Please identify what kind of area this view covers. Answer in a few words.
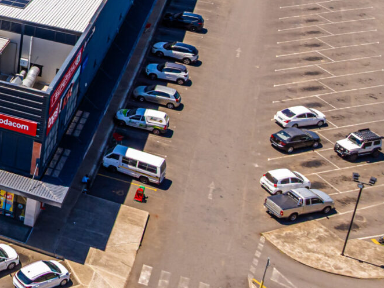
parking lot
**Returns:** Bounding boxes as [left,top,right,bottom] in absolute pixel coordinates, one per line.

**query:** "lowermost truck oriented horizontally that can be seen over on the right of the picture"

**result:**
[265,186,341,222]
